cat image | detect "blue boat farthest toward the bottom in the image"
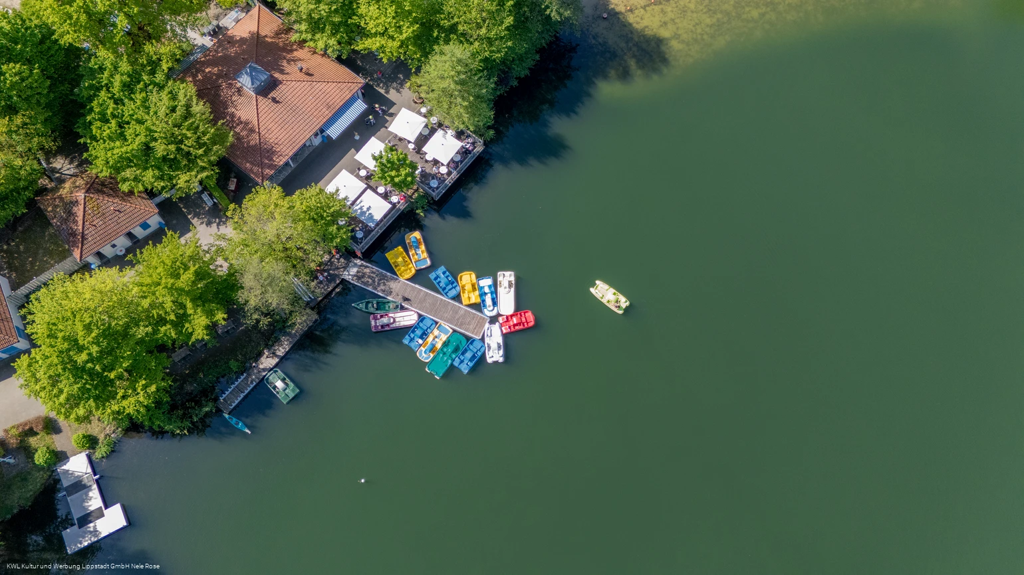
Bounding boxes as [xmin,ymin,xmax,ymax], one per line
[223,413,252,433]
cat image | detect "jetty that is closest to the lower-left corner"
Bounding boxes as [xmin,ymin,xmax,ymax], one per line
[53,452,132,554]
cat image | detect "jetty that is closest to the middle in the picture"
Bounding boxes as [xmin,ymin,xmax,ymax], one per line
[344,259,491,340]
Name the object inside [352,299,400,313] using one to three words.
boat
